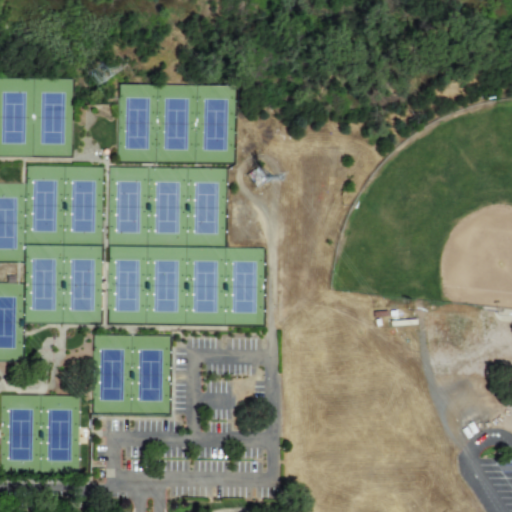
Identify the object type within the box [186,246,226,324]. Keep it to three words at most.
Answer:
tennis court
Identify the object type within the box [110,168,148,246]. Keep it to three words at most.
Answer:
tennis court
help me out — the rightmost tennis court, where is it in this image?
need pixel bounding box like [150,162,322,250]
[226,247,266,325]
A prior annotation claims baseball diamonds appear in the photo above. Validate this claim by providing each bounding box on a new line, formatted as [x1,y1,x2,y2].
[332,100,512,308]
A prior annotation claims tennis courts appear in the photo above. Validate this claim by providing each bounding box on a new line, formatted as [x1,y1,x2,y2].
[109,246,148,324]
[120,84,158,162]
[64,166,104,245]
[186,246,226,324]
[148,246,187,324]
[93,336,132,414]
[0,183,26,262]
[110,168,148,246]
[26,244,64,323]
[0,395,41,472]
[26,166,66,244]
[187,168,226,246]
[34,79,74,156]
[0,78,34,156]
[132,336,171,414]
[156,85,198,162]
[226,247,266,325]
[41,395,81,473]
[64,245,103,323]
[148,168,188,246]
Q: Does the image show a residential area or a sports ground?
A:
sports ground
